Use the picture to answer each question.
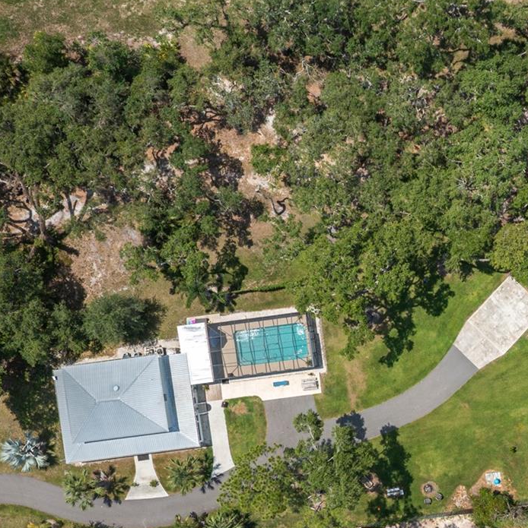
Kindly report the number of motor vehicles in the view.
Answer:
0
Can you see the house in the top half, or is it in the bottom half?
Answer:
bottom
